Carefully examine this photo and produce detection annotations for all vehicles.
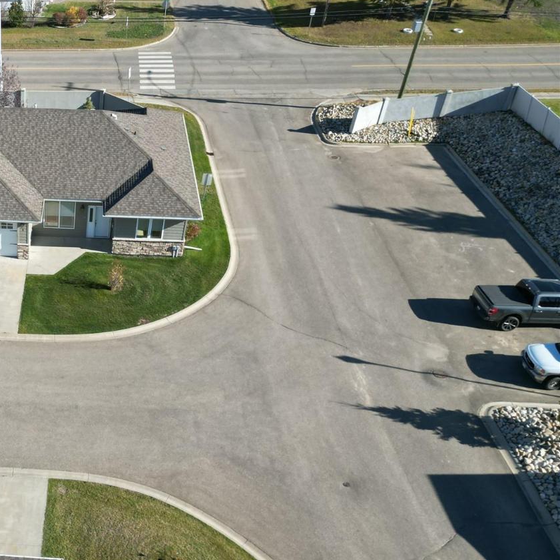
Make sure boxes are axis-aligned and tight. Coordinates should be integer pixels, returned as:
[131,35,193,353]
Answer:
[517,336,560,390]
[468,274,560,329]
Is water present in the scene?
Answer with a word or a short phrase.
No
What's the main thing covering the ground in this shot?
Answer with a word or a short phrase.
paved ground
